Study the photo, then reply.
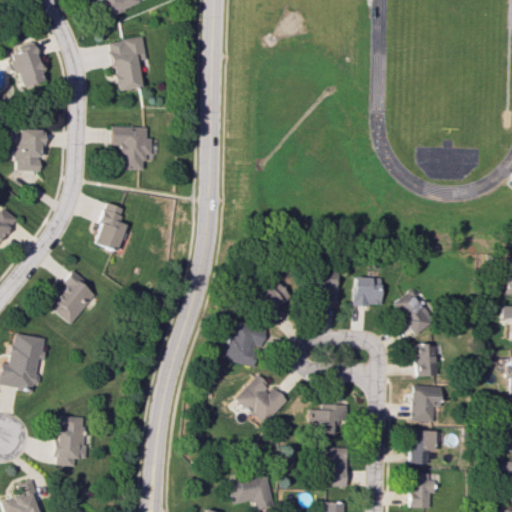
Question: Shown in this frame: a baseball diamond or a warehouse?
baseball diamond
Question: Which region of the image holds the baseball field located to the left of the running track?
top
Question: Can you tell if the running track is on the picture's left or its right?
right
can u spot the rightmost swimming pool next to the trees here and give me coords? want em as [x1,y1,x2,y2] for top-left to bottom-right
[444,432,459,448]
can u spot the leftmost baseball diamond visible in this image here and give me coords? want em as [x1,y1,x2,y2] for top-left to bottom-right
[262,4,309,48]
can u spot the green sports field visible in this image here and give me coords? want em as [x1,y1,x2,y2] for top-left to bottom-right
[386,0,512,186]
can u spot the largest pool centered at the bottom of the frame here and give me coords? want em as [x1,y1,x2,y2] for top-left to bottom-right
[298,492,314,508]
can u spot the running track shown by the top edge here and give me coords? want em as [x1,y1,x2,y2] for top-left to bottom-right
[370,0,512,202]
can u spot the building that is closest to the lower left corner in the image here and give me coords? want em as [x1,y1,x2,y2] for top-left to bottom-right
[2,478,44,512]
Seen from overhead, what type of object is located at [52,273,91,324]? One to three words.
house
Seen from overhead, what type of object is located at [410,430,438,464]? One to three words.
house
